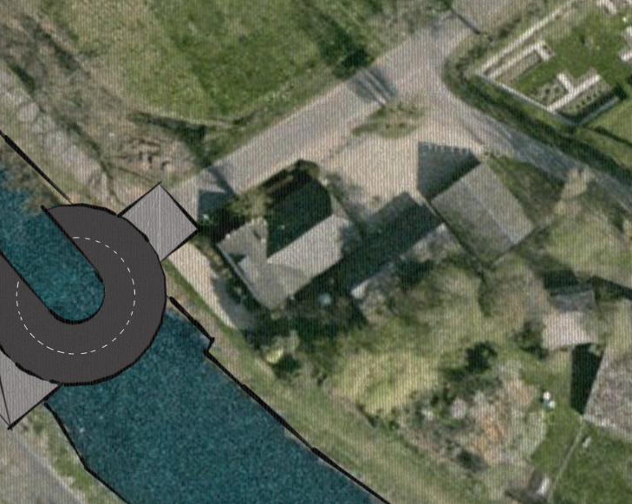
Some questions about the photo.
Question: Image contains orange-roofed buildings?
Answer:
No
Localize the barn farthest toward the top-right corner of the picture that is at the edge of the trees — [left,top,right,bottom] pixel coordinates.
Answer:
[432,162,535,265]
